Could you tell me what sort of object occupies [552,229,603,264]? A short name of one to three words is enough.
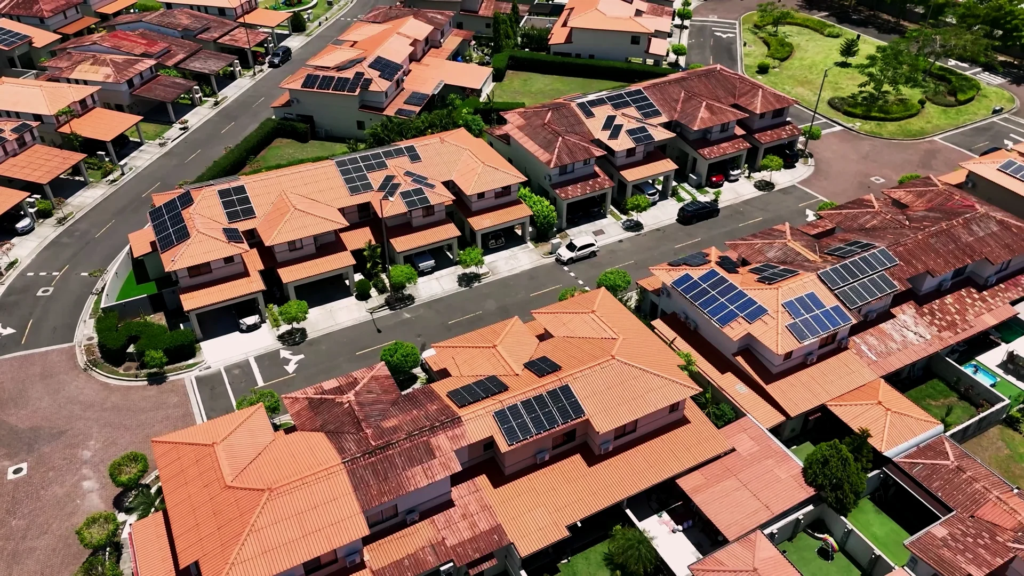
car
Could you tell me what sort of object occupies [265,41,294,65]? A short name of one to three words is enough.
car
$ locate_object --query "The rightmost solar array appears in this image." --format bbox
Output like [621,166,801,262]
[998,160,1024,180]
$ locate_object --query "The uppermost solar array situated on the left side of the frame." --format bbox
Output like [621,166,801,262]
[0,27,31,48]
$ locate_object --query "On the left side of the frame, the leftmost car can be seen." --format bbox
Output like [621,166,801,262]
[0,208,43,234]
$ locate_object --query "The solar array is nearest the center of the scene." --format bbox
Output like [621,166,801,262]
[524,356,561,374]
